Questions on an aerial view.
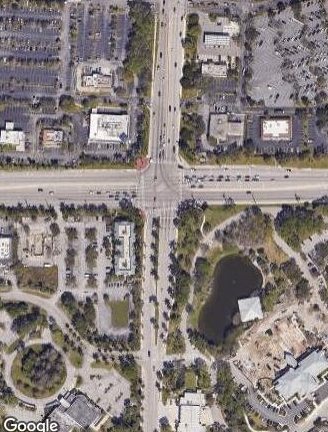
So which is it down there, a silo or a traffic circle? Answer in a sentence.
Looking from above, you can make out a traffic circle.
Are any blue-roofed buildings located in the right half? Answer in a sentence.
No, in the right half there is no blue-roofed building.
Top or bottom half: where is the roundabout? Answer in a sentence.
The roundabout is in the bottom half of the image.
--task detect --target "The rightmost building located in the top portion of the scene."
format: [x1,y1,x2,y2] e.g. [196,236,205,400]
[260,115,293,141]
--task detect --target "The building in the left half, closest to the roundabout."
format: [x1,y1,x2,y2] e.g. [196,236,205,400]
[45,390,102,432]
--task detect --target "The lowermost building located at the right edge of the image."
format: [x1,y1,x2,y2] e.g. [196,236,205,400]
[271,344,328,404]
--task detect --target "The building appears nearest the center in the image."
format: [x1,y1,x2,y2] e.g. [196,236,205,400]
[113,221,135,276]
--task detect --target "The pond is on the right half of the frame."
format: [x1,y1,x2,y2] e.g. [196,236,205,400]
[198,254,263,343]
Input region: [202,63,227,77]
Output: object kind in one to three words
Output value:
building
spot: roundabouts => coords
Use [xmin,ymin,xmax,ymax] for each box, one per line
[4,335,73,404]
